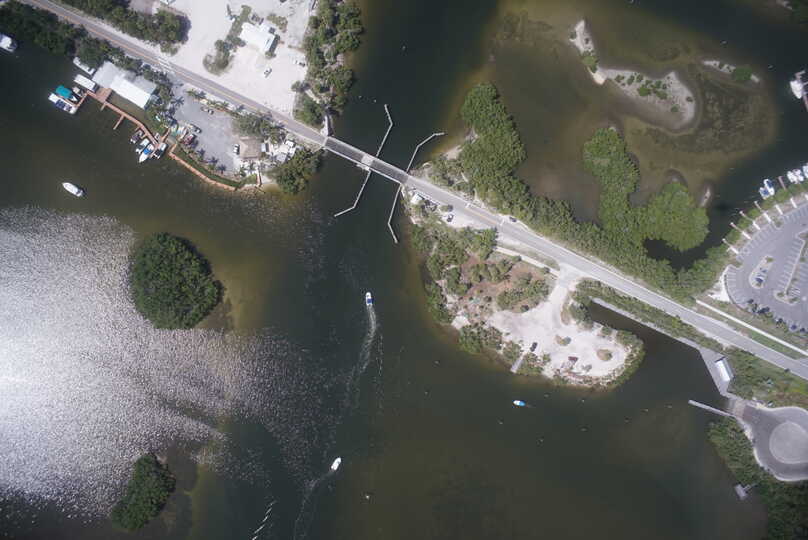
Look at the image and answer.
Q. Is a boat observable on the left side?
Yes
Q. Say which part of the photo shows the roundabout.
bottom right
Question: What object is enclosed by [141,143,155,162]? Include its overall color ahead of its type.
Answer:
white boat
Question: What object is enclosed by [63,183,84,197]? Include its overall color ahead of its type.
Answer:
white boat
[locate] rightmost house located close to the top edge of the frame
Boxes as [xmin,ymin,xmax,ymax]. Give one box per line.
[240,23,275,51]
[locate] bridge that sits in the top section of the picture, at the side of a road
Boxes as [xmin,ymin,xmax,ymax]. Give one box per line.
[324,134,407,186]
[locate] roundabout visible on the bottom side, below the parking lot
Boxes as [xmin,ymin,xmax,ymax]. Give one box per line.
[743,400,808,482]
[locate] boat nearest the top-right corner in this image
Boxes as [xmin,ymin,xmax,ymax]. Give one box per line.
[789,81,807,102]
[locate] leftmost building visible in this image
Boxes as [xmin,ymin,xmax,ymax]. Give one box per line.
[94,60,157,109]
